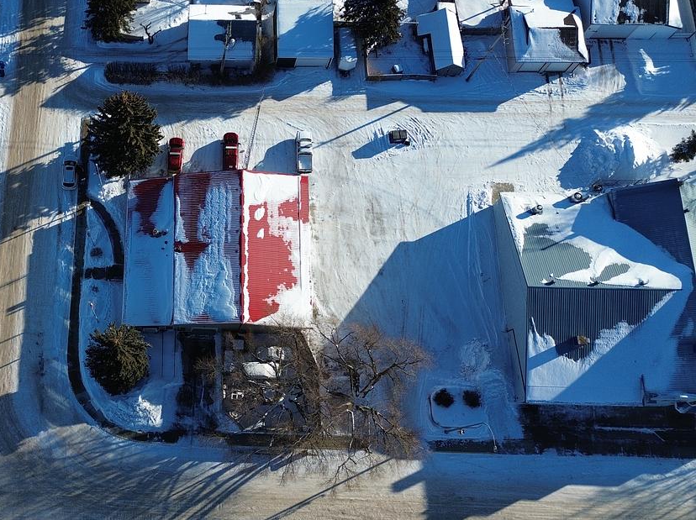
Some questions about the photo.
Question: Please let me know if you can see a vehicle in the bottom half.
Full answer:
No, the scene shows no vehicle in the bottom half.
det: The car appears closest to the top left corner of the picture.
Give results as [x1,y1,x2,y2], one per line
[61,158,80,193]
